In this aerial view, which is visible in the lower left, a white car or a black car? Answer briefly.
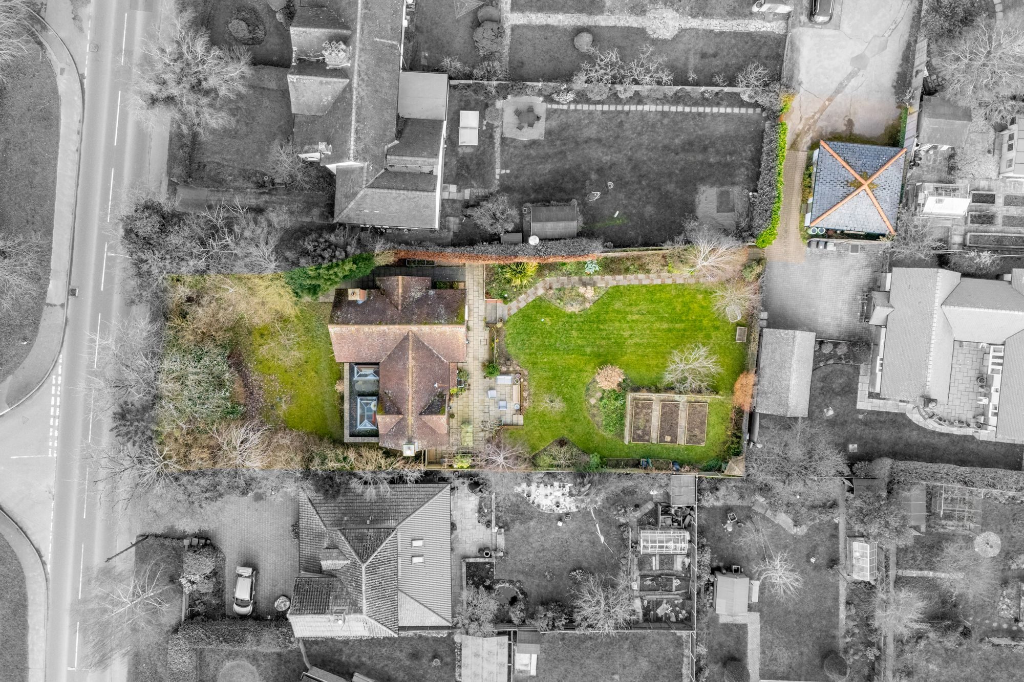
white car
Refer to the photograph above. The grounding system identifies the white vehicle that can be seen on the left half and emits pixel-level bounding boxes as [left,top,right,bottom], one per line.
[229,566,259,617]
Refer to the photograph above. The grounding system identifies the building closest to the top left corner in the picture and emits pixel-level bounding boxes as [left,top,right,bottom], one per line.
[287,0,450,233]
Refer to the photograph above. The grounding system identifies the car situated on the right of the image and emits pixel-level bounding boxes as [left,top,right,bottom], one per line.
[807,0,838,26]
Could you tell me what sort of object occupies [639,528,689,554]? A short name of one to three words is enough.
greenhouse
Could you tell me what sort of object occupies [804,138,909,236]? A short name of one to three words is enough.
building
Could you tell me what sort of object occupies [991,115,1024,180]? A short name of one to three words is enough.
house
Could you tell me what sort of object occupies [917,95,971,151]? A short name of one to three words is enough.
shed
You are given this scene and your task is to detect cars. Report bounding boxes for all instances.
[807,0,838,26]
[229,566,259,617]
